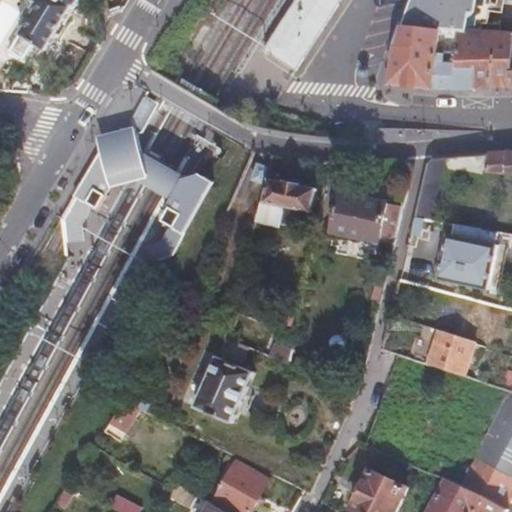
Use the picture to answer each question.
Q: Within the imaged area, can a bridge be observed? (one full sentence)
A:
Yes, there is a bridge in the image.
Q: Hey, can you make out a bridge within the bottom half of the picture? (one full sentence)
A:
No, looking within the bottom half of the picture, there is no bridge.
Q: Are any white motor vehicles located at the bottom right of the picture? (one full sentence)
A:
No, I see no white motor vehicle at the bottom right of the picture.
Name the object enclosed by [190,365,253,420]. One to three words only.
house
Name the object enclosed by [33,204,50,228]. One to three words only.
car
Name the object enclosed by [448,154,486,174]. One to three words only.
shed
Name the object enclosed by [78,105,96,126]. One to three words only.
car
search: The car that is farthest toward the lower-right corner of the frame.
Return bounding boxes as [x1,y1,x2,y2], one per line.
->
[370,386,384,406]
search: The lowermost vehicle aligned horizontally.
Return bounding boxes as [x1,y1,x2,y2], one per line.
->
[410,262,432,274]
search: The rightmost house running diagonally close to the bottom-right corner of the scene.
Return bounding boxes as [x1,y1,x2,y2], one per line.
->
[474,459,512,506]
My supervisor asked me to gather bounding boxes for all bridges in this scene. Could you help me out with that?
[148,66,250,147]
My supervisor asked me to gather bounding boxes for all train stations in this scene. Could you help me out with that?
[0,0,285,512]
